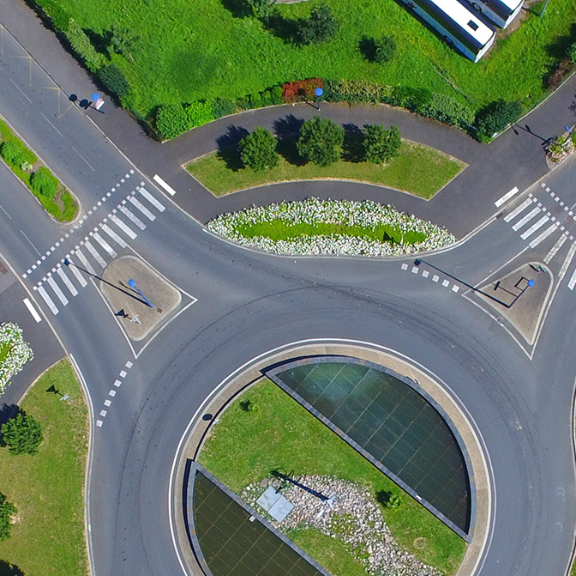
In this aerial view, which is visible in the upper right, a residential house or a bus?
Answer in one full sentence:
Visible in the upper right is a bus.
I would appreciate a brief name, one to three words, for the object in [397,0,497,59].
bus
